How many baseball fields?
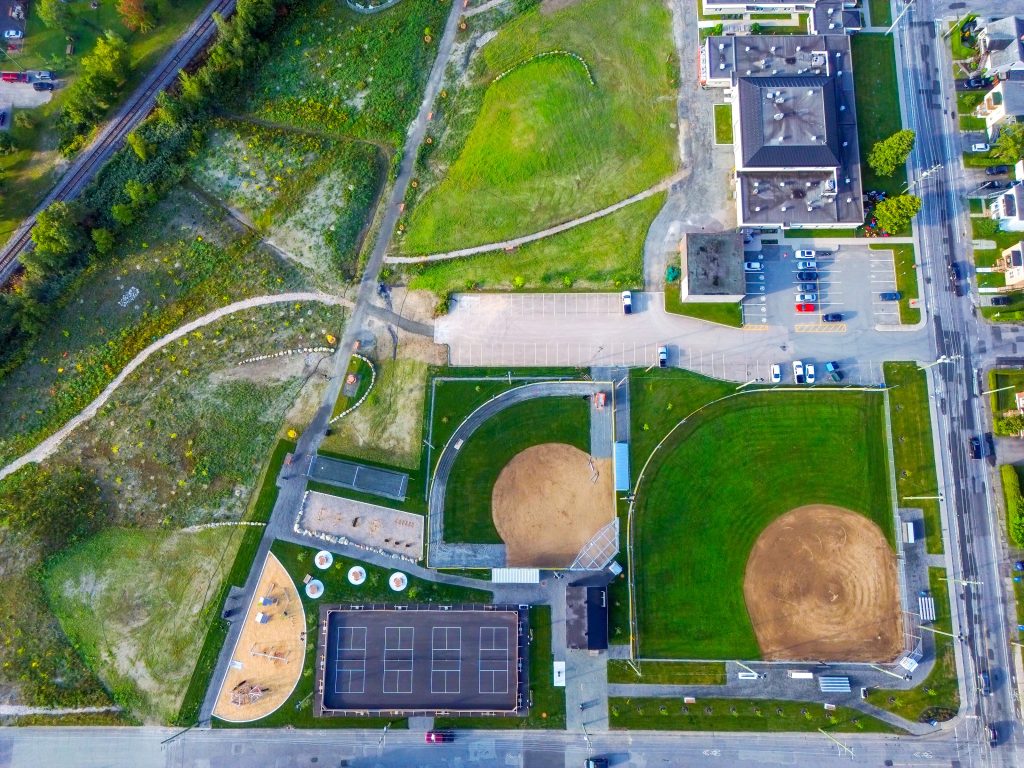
two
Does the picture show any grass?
Yes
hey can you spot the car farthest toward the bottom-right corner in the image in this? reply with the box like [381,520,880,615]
[986,723,1002,748]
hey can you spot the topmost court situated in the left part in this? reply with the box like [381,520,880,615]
[307,454,408,501]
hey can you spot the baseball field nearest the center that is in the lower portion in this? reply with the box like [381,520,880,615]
[428,383,618,569]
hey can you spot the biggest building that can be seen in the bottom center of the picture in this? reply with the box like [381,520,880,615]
[566,587,609,657]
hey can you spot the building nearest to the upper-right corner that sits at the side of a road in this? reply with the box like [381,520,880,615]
[956,14,1024,77]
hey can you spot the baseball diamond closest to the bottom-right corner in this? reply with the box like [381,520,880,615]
[630,389,905,665]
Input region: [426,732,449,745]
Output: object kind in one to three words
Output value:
vehicle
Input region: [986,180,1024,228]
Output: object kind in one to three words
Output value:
house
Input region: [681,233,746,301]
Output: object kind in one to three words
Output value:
building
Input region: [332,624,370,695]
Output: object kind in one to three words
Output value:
sports court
